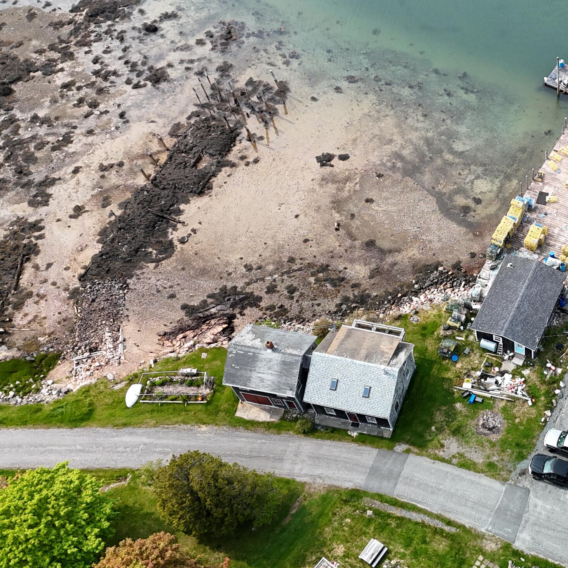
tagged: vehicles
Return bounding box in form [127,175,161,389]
[540,430,568,458]
[528,456,568,488]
